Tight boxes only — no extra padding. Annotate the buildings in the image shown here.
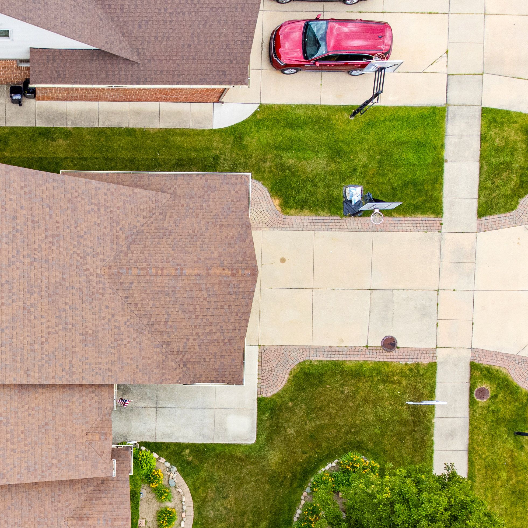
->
[0,0,261,110]
[0,163,259,528]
